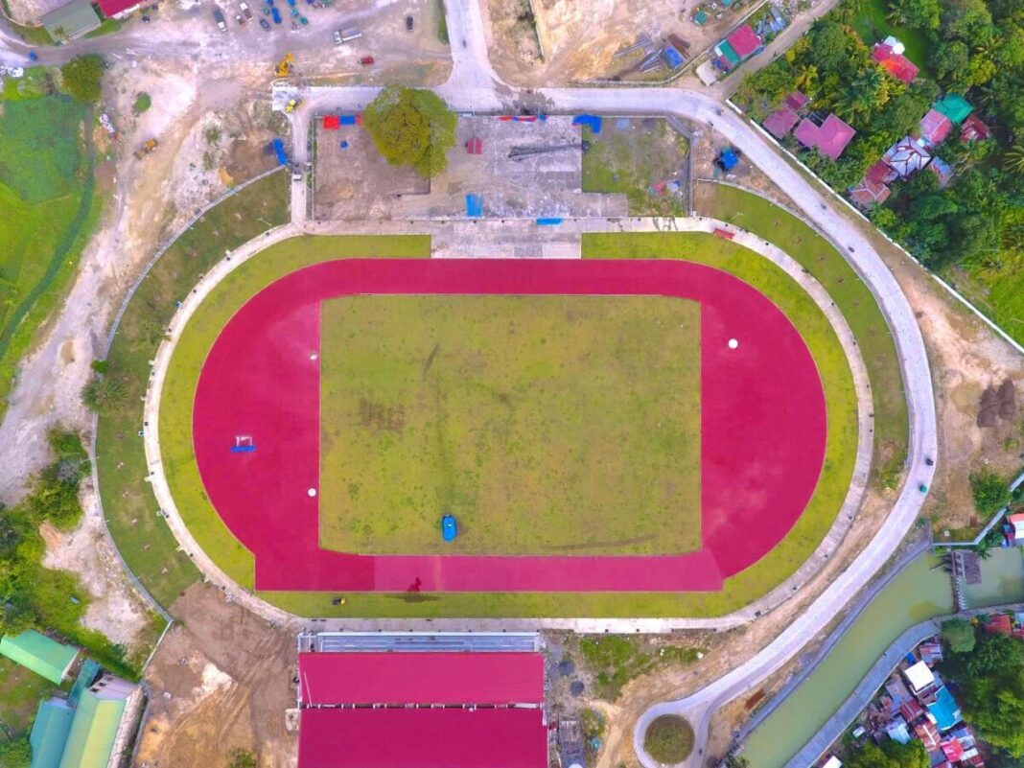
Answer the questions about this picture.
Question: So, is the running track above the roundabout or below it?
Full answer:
Looking at the photo, you'll find the running track above the roundabout.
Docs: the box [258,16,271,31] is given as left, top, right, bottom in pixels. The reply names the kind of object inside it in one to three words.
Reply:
vehicle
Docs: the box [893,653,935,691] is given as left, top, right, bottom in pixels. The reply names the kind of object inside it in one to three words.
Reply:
house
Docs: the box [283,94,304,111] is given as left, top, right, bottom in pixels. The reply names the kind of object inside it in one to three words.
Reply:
work vehicle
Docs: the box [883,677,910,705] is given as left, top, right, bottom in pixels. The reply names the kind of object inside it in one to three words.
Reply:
shed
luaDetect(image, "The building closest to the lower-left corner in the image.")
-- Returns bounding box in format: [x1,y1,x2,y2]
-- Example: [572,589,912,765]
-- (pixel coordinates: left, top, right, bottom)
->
[23,690,82,768]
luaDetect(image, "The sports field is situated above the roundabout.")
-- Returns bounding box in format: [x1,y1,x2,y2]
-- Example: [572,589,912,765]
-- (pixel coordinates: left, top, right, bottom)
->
[319,294,702,556]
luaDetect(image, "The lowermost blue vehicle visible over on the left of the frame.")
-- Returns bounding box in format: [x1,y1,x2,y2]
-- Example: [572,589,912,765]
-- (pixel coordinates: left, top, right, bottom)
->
[273,140,285,162]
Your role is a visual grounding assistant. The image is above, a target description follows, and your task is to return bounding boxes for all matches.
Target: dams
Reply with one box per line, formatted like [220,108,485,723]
[947,549,986,611]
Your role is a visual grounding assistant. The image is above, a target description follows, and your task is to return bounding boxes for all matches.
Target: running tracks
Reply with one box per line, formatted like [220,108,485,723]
[192,257,827,592]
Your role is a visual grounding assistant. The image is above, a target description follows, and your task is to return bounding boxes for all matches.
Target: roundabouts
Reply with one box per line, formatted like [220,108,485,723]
[643,712,697,767]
